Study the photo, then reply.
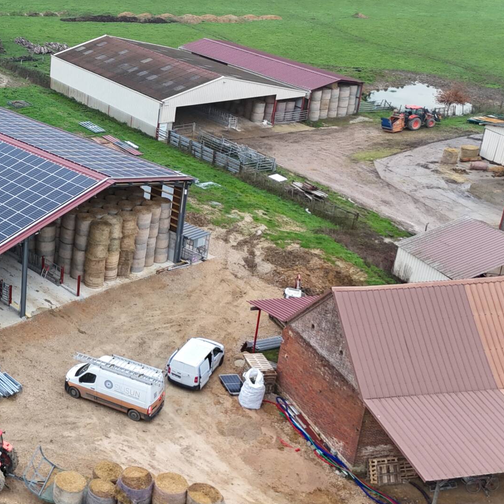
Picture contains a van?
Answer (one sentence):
Yes, there's a van here.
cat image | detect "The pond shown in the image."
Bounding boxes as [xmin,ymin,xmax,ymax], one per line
[371,83,471,117]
